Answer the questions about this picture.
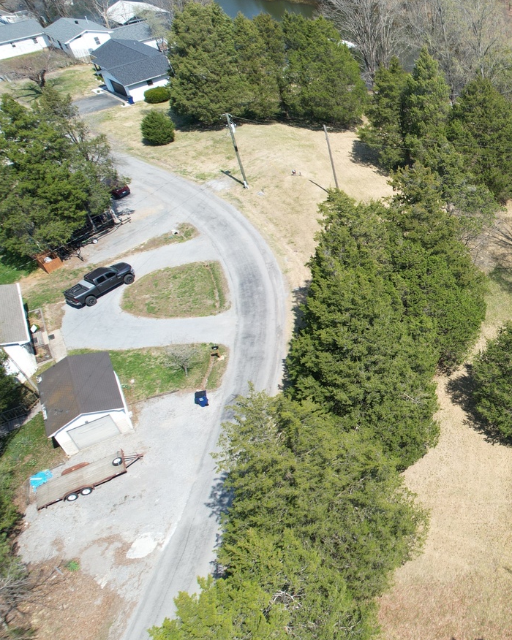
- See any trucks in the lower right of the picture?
No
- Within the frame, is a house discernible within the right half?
No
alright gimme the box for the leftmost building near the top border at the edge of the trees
[0,15,46,58]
